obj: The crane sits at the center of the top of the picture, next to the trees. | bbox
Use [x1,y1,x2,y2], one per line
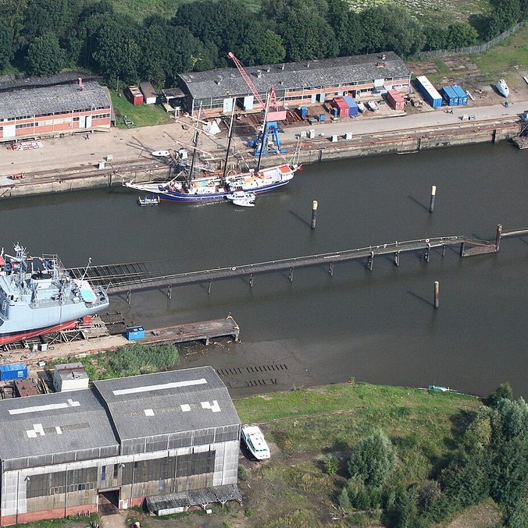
[226,50,288,155]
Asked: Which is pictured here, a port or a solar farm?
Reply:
port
